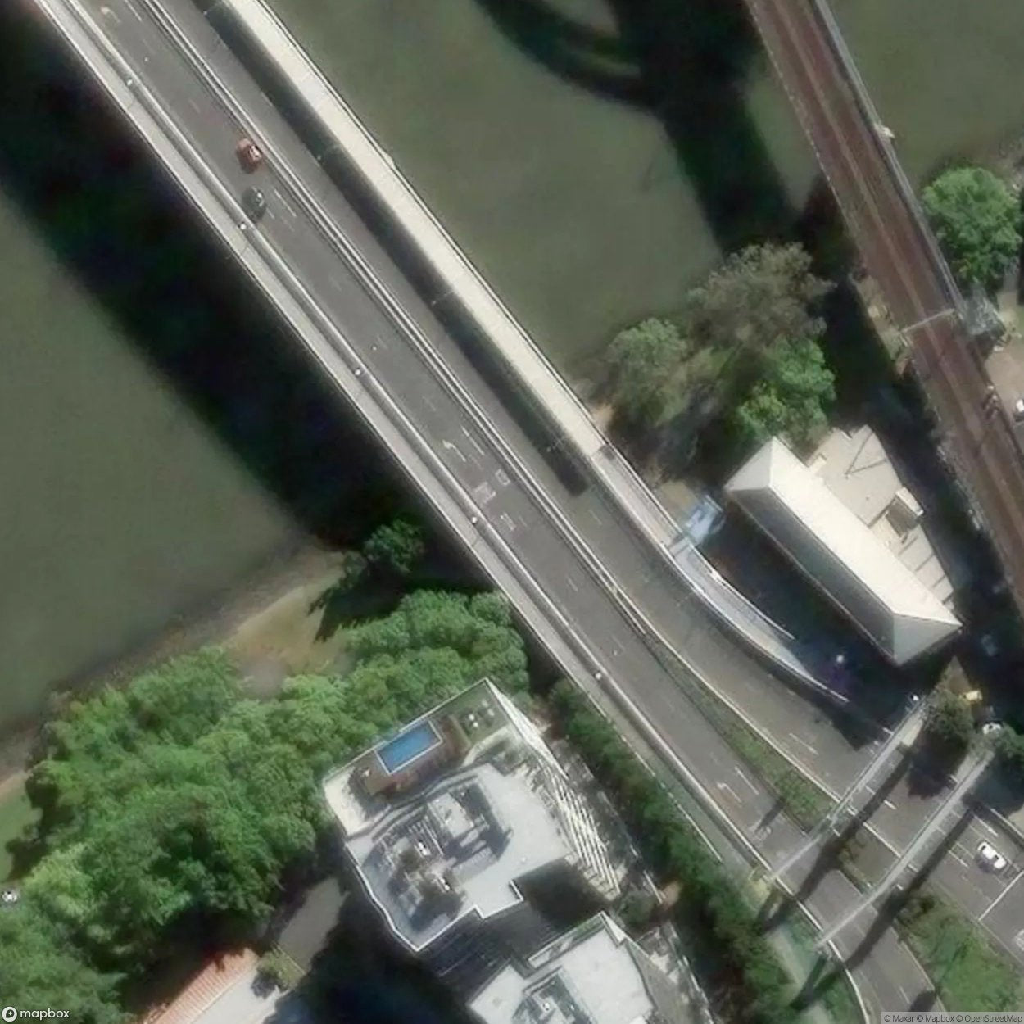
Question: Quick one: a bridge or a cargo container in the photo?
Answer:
bridge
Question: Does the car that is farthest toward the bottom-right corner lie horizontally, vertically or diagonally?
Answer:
diagonally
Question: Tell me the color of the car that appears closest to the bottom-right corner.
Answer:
white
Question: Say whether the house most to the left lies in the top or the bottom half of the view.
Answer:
bottom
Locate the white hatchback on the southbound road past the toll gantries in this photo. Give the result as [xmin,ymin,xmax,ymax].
[979,842,1007,869]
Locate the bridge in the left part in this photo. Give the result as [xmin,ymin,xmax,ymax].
[34,0,680,649]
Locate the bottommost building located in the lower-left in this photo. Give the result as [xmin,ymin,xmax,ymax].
[150,944,298,1024]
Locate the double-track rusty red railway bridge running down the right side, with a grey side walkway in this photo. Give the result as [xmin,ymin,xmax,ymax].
[745,0,1024,609]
